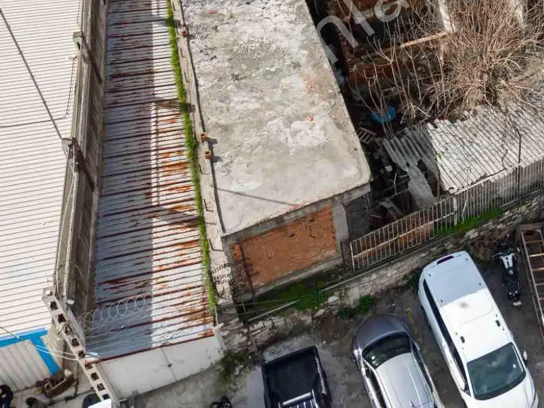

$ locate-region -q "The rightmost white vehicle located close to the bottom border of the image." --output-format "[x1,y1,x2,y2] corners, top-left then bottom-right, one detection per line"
[414,247,543,408]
